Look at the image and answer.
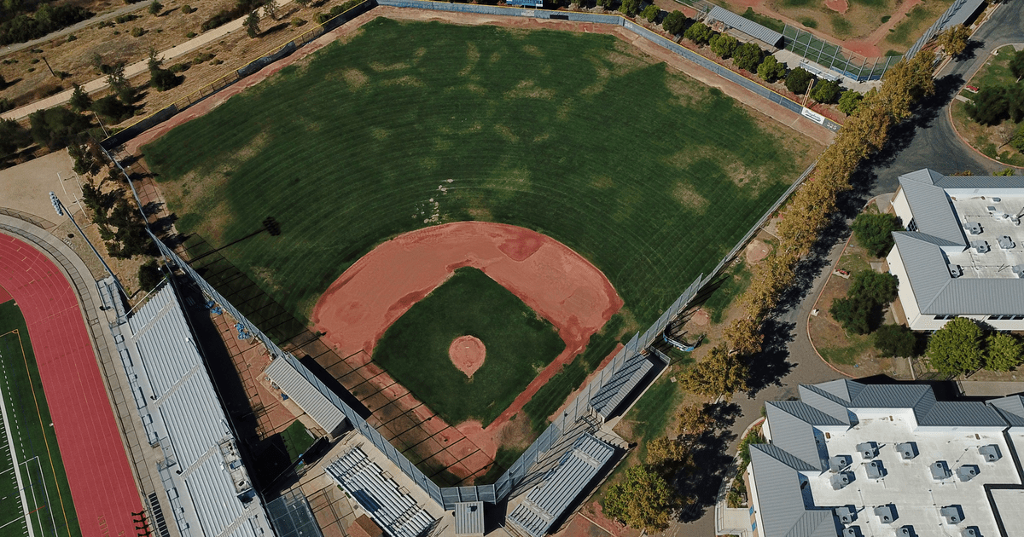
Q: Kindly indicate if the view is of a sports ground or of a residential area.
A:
sports ground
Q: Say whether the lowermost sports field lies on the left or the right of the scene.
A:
left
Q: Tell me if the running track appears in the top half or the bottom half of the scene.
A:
bottom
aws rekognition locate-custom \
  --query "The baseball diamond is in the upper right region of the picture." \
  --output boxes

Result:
[701,0,969,82]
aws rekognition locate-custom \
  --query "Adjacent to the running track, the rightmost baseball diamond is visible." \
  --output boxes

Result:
[105,6,837,510]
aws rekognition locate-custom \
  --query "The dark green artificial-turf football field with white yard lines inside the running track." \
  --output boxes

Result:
[0,300,82,537]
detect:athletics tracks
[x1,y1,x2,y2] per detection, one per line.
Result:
[0,233,148,537]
